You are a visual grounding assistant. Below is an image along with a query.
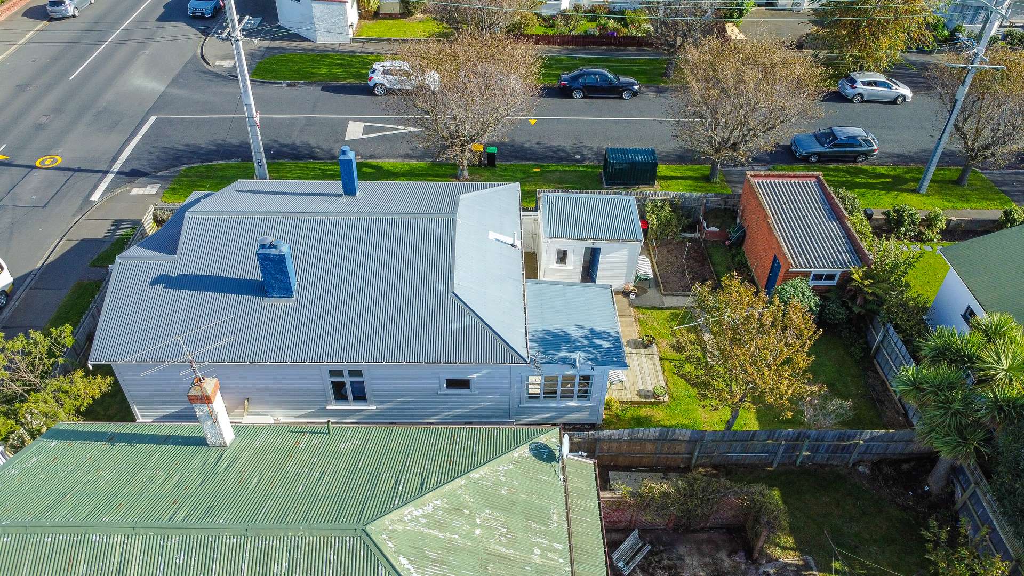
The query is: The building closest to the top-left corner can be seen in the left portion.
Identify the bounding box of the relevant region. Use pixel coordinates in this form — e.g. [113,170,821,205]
[271,0,368,41]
